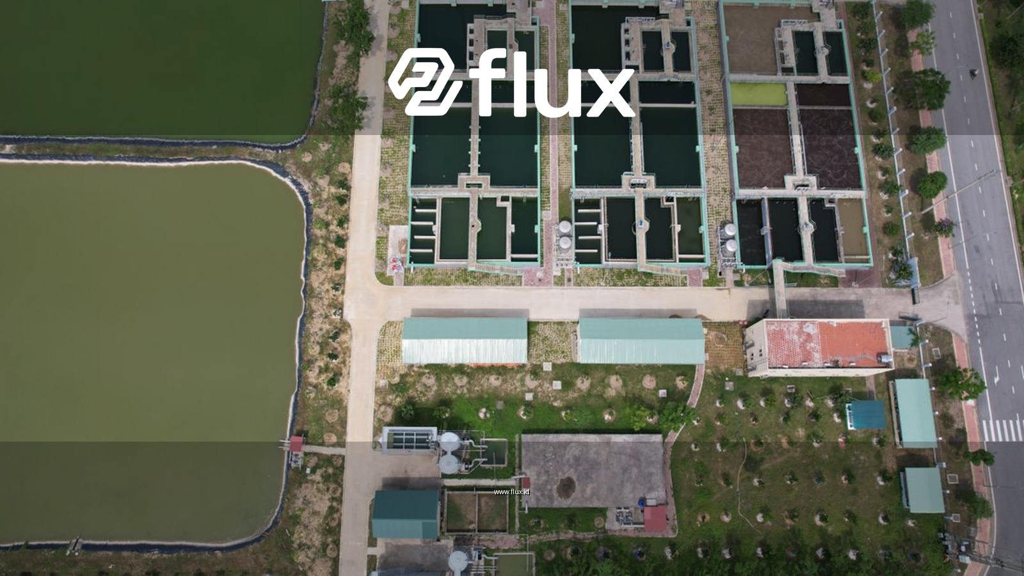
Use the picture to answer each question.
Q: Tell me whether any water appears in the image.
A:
Yes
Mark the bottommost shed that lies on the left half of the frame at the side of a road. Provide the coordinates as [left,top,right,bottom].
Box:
[372,490,440,538]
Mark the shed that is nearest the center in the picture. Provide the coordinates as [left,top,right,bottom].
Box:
[402,318,527,365]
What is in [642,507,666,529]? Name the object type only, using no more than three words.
building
